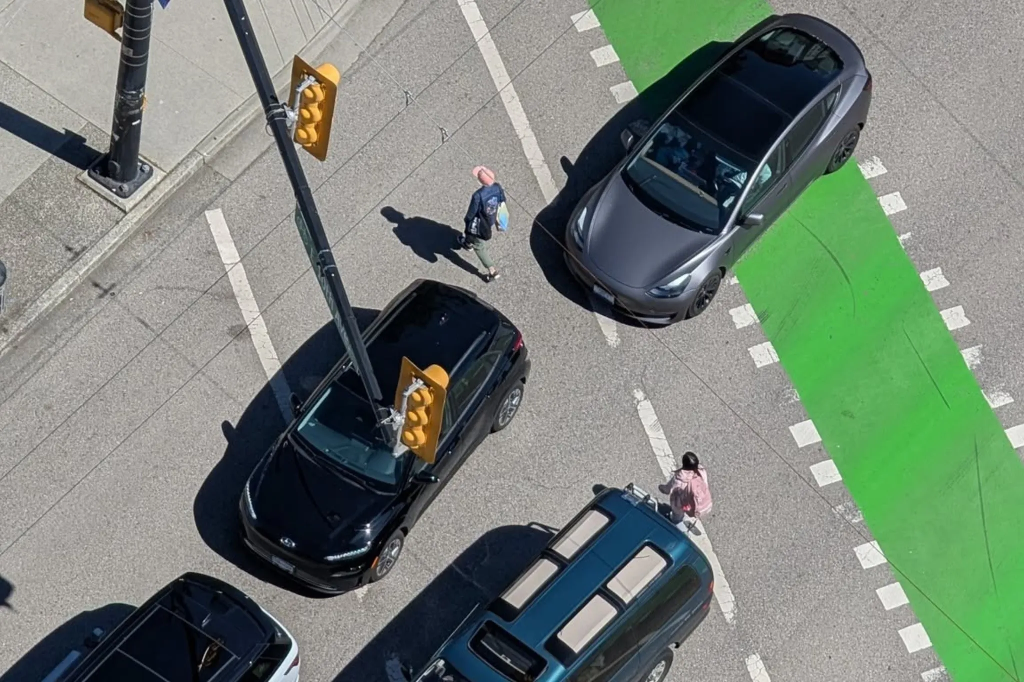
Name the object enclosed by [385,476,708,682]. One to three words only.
van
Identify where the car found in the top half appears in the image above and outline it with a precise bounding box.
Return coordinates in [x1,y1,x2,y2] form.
[563,11,874,323]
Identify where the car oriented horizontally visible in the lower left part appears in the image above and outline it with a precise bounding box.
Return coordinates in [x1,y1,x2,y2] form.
[63,574,303,682]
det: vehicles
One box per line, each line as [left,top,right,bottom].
[563,11,874,323]
[385,476,708,682]
[63,574,303,682]
[232,274,537,592]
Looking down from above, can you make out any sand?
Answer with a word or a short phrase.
No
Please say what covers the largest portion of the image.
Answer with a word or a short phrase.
paved ground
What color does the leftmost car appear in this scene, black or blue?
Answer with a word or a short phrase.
black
